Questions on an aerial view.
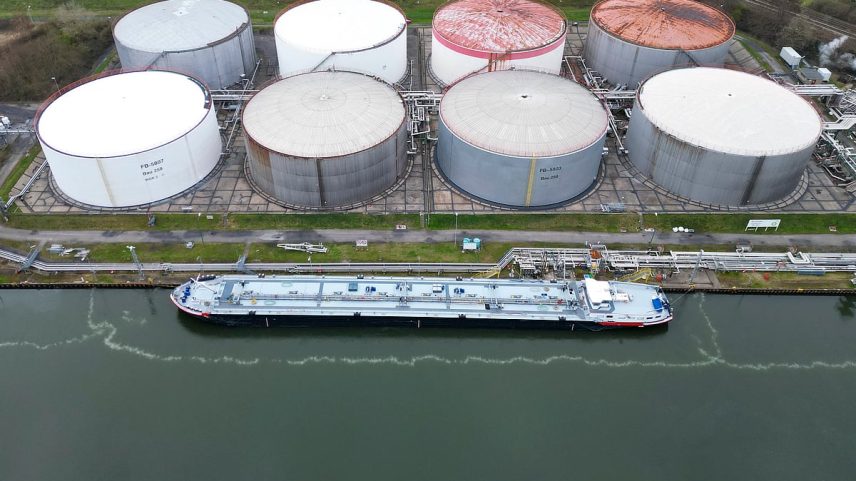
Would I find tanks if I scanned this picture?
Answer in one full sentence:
Yes, this view includes a tank.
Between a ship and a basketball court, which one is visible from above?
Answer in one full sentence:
Looking from above, you can make out a ship.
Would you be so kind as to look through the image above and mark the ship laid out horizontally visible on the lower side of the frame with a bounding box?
[169,271,674,332]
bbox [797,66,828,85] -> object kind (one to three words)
shed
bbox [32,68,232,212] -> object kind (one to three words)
storage tank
